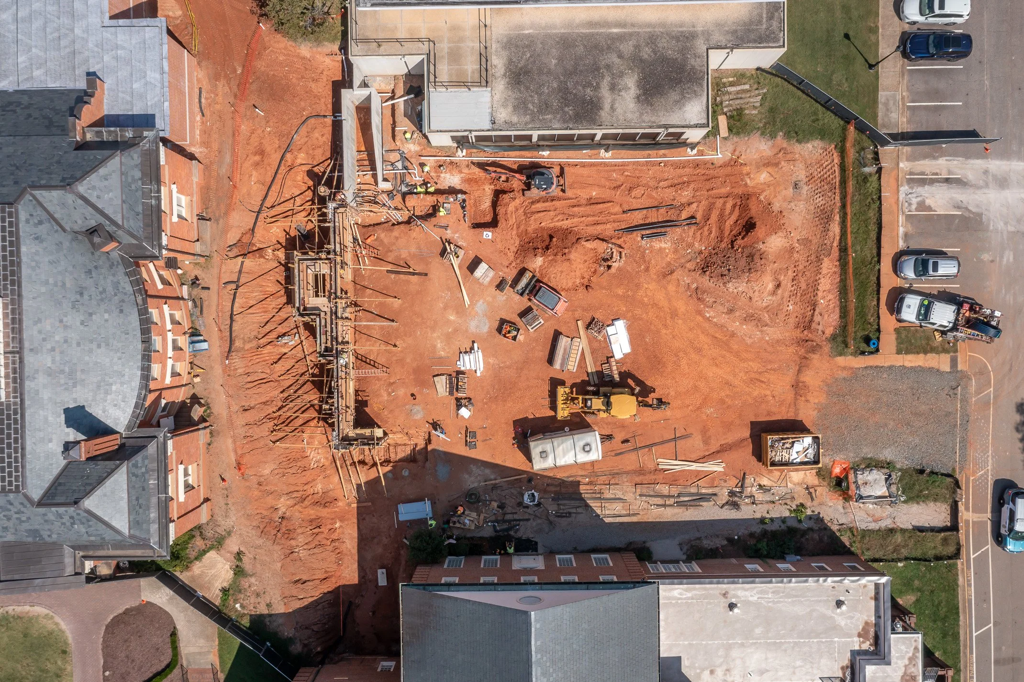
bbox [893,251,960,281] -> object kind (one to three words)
car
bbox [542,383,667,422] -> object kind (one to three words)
work vehicle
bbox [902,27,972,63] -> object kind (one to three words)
car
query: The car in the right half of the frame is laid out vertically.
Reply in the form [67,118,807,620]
[993,486,1024,553]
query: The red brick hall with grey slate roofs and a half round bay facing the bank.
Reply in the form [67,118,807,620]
[0,76,216,594]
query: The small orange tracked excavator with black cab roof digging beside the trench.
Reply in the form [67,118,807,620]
[497,161,571,197]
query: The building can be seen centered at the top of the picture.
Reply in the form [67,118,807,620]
[350,0,787,151]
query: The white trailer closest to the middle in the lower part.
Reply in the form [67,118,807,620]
[529,428,613,470]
